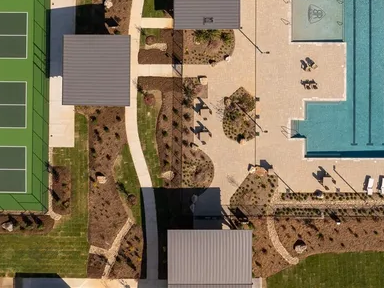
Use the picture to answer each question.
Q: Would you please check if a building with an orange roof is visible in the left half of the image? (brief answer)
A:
No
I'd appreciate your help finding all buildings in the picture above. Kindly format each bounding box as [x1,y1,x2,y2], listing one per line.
[63,35,131,106]
[168,229,253,288]
[174,0,241,29]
